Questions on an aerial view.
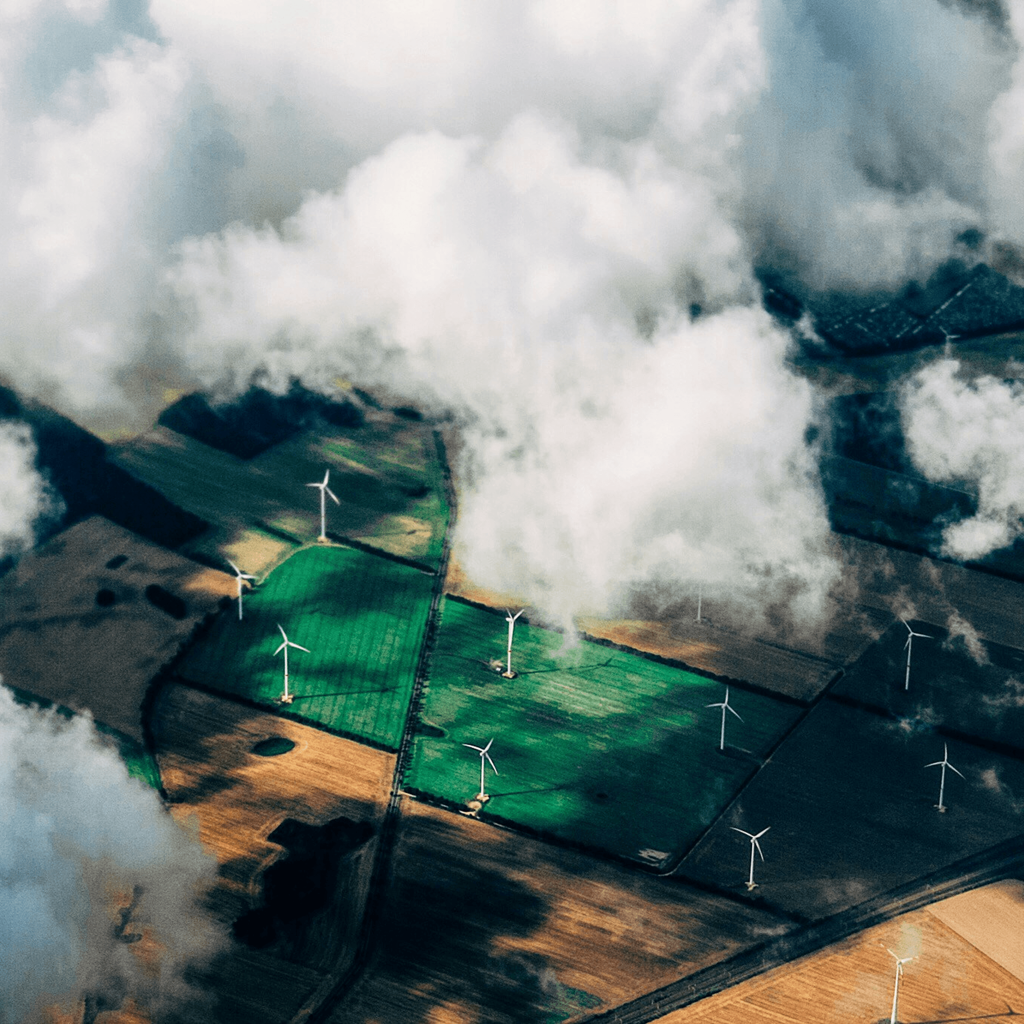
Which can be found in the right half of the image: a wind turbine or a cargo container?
wind turbine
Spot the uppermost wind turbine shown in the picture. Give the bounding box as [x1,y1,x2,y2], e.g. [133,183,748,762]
[944,314,975,379]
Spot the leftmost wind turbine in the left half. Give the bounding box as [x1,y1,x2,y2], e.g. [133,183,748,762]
[228,554,259,621]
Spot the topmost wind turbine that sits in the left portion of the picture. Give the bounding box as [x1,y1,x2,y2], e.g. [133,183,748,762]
[307,466,337,542]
